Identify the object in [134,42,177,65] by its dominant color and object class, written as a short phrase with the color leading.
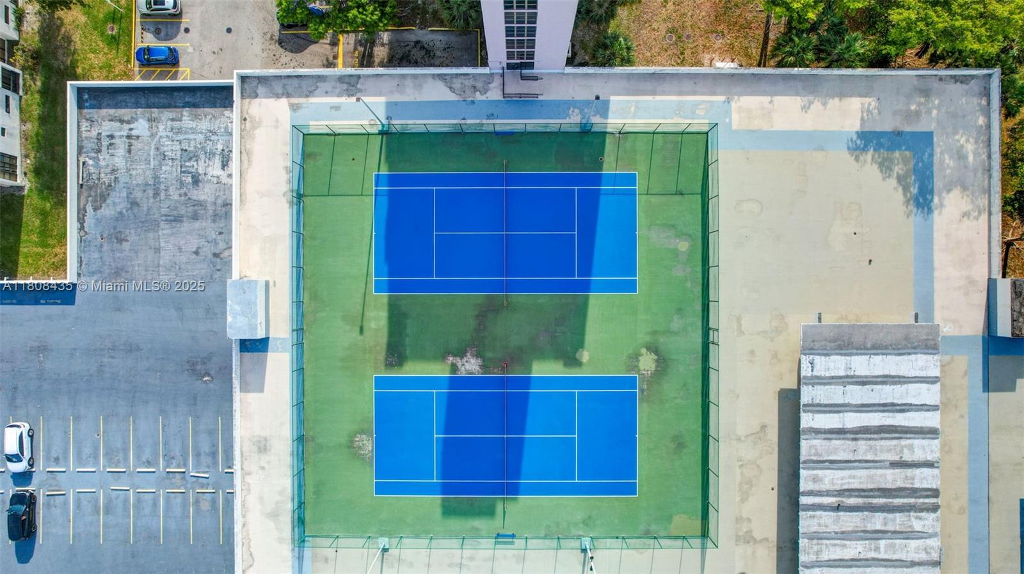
blue car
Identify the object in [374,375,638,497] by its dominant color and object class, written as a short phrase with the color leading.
blue tennis court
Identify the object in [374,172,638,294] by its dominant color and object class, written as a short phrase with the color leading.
blue tennis court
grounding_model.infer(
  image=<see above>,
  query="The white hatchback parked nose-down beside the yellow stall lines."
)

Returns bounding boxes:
[3,423,33,472]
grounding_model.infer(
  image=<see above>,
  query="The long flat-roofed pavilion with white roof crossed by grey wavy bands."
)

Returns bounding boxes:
[798,312,940,574]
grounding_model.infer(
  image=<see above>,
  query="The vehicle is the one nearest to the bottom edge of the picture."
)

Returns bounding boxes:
[6,491,36,541]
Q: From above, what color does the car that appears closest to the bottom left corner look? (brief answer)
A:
black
